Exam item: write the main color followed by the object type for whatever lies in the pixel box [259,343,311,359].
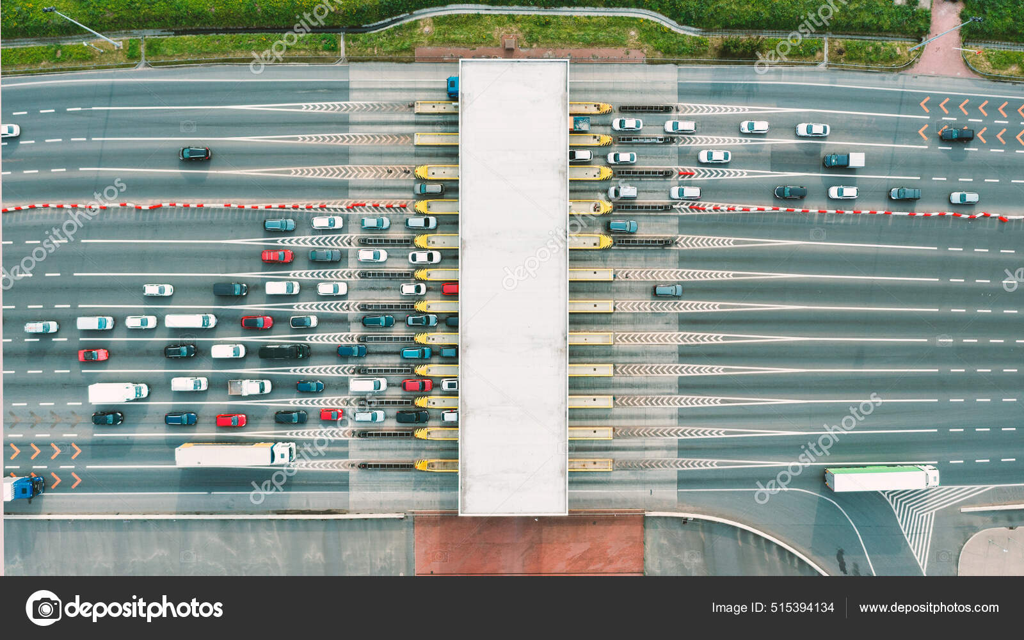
black vehicle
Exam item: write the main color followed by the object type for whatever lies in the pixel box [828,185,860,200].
white car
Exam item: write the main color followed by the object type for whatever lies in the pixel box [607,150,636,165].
white car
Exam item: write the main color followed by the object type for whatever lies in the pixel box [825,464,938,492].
white truck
